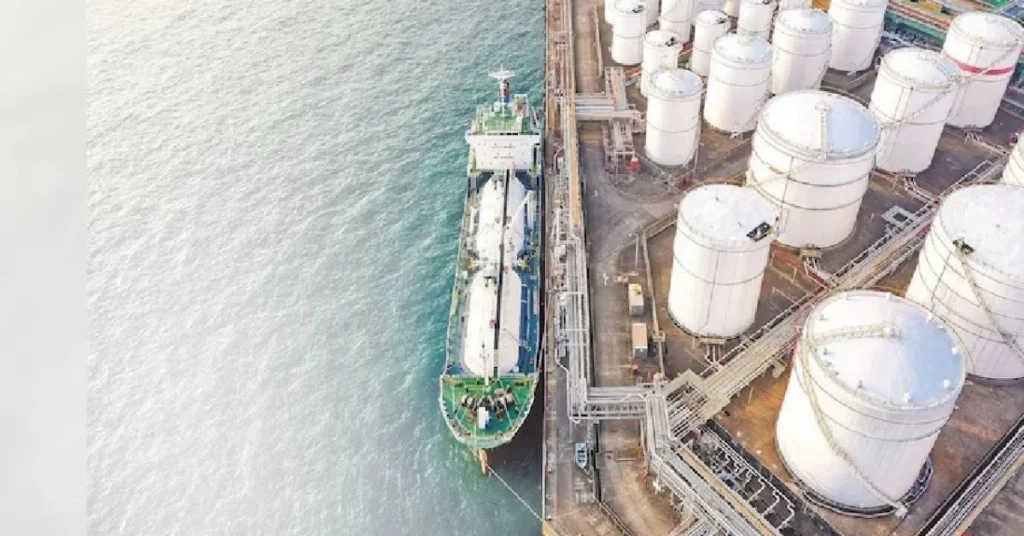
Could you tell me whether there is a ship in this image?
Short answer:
Yes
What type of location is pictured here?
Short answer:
industrial area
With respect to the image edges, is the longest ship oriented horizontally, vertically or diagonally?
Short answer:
vertically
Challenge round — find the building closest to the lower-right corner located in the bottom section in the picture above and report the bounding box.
[633,326,652,359]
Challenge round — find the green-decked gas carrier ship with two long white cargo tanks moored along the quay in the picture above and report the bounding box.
[440,65,544,474]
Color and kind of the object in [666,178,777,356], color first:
white storage tank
